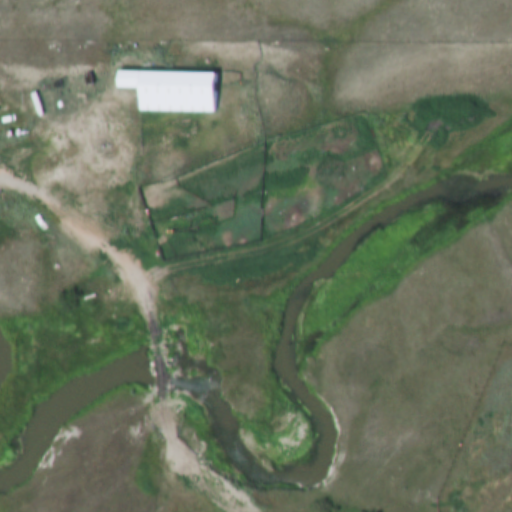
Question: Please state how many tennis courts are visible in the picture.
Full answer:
There are no tennis courts in this view.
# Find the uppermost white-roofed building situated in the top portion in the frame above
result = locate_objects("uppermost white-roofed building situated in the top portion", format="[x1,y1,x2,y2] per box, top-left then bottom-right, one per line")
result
[118,70,218,113]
